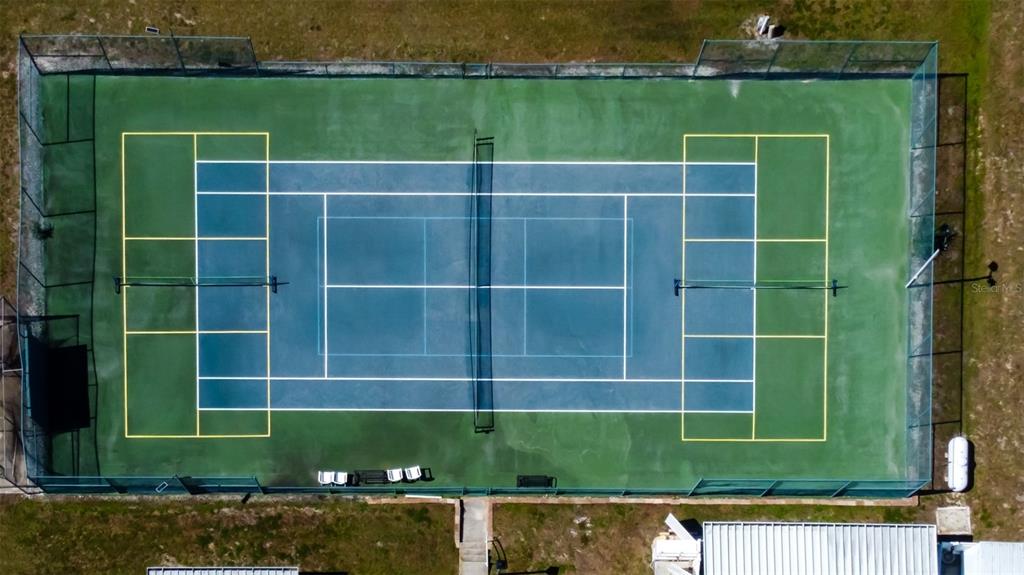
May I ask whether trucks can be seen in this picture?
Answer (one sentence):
No, the frame has no truck in it.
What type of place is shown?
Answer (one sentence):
It's a sports ground.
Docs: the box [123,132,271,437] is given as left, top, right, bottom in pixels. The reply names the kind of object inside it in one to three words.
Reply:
sports court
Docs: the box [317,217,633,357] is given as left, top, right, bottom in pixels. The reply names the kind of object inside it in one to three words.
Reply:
sports court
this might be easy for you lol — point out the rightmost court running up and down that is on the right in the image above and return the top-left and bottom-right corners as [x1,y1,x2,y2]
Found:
[682,134,830,441]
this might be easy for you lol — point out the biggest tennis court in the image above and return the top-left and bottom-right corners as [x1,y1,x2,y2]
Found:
[40,77,913,495]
